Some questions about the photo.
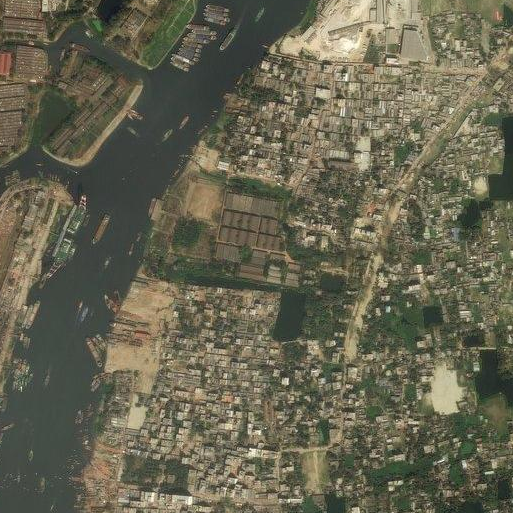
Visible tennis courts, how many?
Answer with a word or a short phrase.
0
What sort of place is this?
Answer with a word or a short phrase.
residential area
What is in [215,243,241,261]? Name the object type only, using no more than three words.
building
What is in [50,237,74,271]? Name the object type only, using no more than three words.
ship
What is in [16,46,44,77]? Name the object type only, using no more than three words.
building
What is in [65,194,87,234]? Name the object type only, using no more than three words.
ship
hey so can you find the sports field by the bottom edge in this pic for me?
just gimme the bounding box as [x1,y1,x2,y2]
[303,449,329,494]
